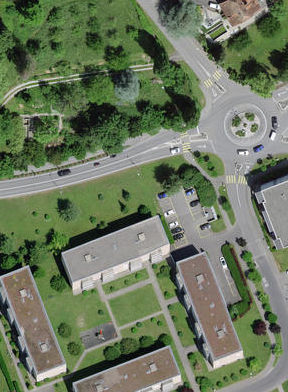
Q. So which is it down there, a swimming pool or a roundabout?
roundabout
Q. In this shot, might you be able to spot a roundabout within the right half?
Yes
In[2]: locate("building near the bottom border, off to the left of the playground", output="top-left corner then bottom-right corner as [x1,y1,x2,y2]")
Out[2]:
[0,266,66,382]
